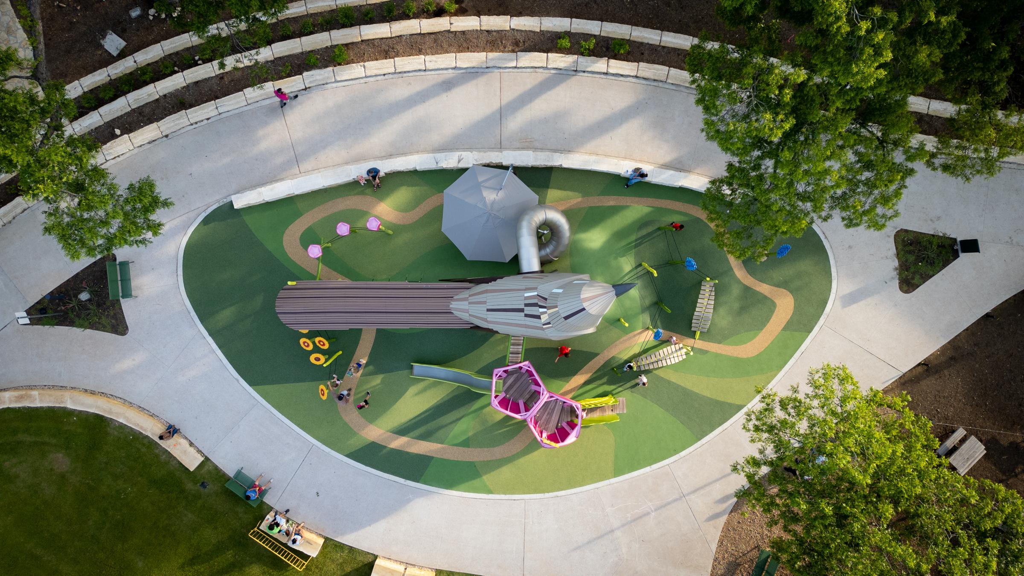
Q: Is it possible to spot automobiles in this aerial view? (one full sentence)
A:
No, I find no automobile anywhere in the image.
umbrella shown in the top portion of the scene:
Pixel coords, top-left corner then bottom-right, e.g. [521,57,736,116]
[442,163,538,262]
